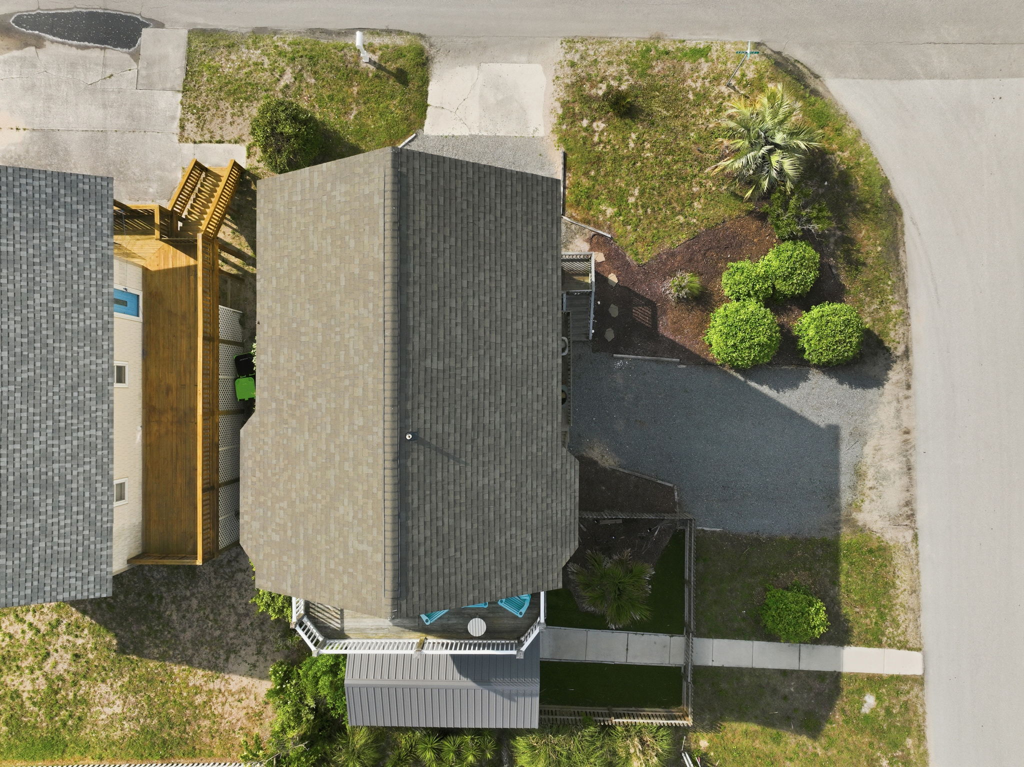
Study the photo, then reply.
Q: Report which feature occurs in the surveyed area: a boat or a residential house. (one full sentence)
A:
Of the two, only a residential house appears.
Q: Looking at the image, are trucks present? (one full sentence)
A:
No, there appears to be no truck in this shot.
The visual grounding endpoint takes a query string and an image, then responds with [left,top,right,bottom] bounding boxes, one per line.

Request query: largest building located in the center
[240,146,579,621]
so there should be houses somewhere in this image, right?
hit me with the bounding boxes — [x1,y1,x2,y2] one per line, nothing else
[240,146,579,621]
[0,166,145,608]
